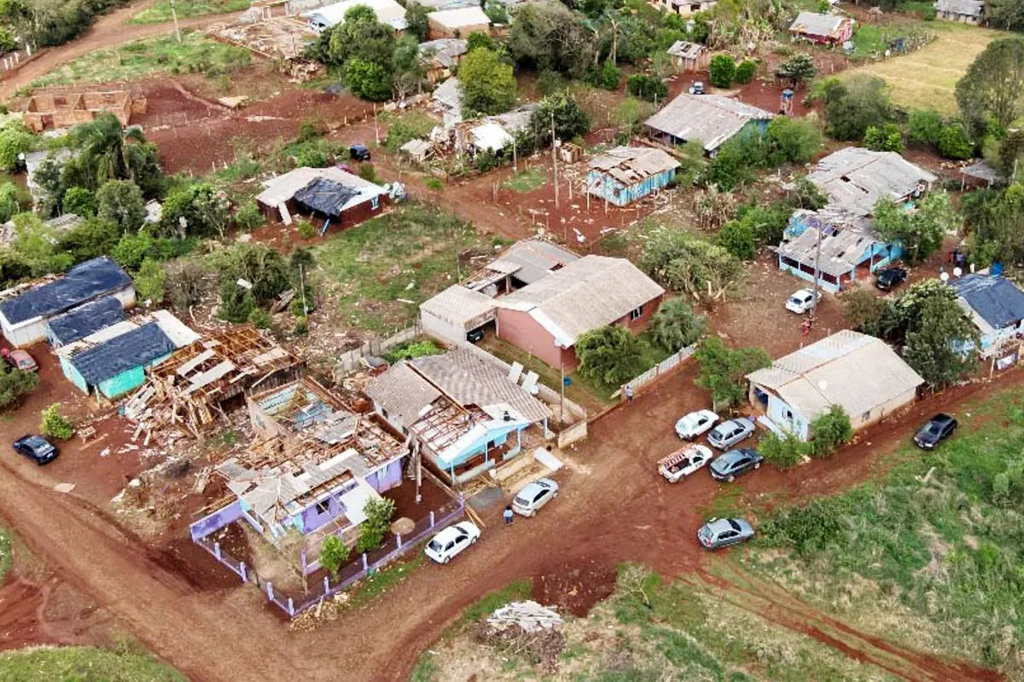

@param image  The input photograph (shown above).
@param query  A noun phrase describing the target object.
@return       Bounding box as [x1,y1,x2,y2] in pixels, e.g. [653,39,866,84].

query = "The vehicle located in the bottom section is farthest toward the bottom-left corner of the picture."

[6,430,64,464]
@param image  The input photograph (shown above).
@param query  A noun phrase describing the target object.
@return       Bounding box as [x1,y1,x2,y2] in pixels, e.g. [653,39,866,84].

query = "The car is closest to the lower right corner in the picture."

[911,410,964,450]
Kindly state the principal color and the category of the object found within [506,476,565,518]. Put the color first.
white car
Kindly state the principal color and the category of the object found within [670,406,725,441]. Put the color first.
white car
